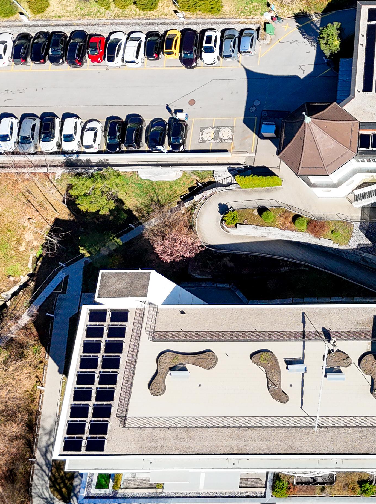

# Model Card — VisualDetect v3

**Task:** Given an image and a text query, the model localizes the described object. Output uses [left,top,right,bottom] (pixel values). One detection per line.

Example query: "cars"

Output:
[105,33,126,67]
[124,33,144,67]
[37,114,61,151]
[145,120,166,152]
[239,28,257,57]
[46,30,69,65]
[16,118,40,152]
[166,116,190,152]
[0,116,19,150]
[200,30,221,65]
[162,30,181,59]
[29,33,50,64]
[102,120,124,150]
[143,34,163,60]
[58,113,83,151]
[11,32,32,66]
[123,114,145,150]
[179,30,200,67]
[81,121,103,152]
[85,34,106,62]
[66,32,87,67]
[220,29,239,61]
[0,33,13,67]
